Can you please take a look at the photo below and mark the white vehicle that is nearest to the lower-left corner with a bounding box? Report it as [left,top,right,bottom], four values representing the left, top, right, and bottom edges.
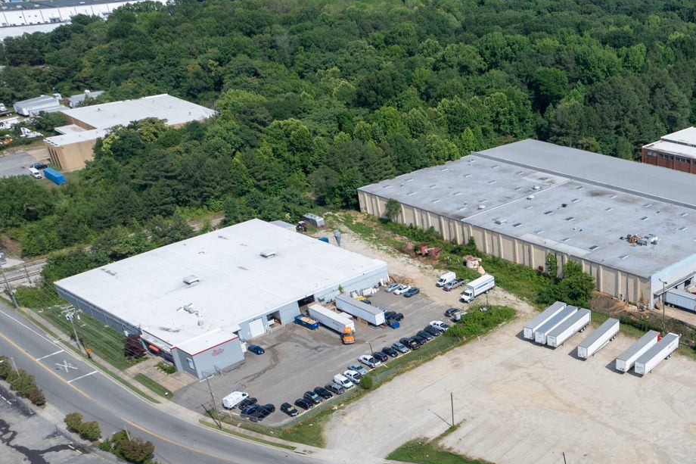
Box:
[219,388,251,410]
